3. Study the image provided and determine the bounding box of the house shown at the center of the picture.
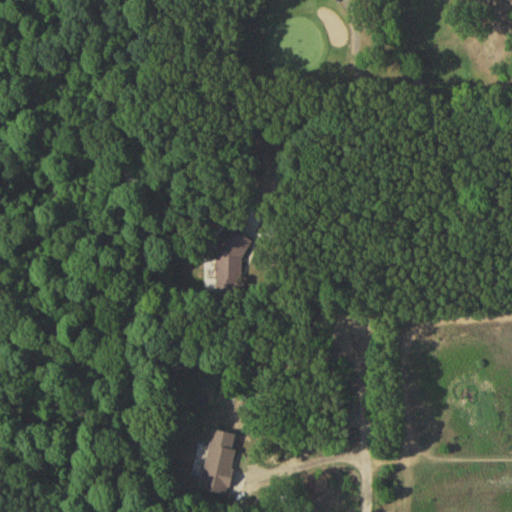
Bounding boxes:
[204,232,254,288]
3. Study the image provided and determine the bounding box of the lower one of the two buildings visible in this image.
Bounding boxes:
[196,430,235,492]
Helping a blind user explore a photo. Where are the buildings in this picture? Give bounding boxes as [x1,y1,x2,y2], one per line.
[204,232,254,288]
[196,430,235,492]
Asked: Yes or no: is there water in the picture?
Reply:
No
